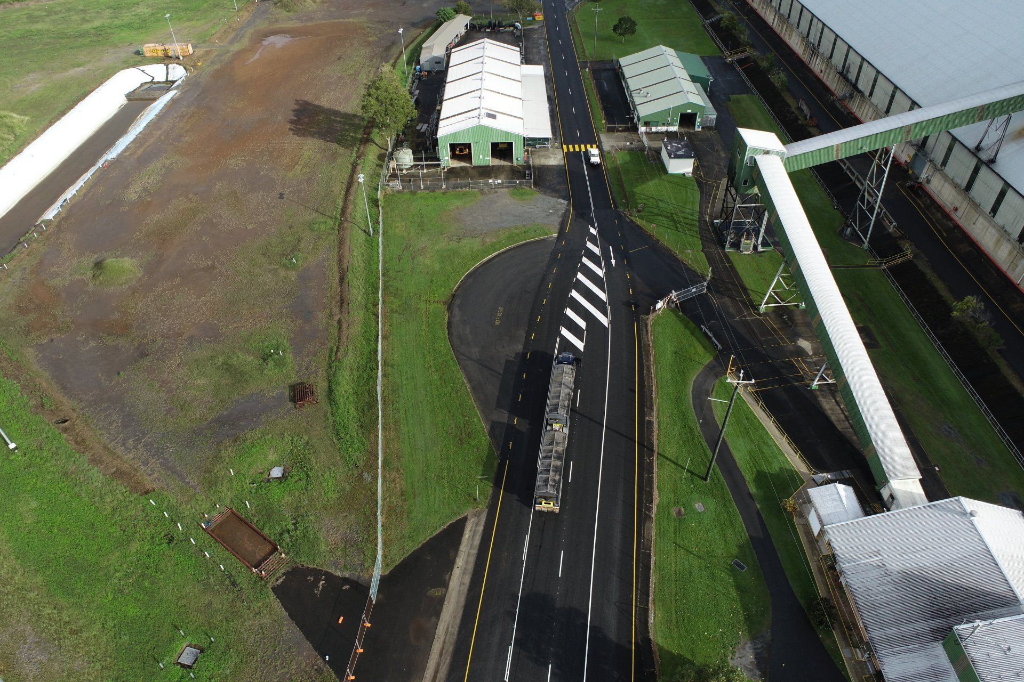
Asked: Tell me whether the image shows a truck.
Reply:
Yes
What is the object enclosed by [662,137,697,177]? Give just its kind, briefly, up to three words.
shed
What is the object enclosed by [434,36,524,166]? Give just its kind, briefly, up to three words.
building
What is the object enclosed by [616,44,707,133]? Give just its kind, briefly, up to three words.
shed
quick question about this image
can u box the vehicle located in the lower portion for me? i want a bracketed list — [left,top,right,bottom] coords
[535,352,577,516]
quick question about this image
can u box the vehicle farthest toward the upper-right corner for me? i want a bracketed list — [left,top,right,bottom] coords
[588,144,600,162]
